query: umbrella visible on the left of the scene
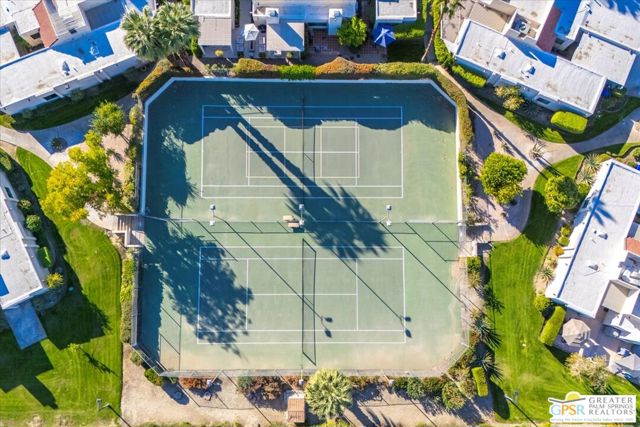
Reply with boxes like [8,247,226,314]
[244,25,260,42]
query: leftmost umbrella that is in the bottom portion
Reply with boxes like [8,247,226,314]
[561,318,588,346]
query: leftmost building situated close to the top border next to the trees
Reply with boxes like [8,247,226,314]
[0,0,164,118]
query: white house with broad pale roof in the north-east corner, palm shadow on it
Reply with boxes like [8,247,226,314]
[555,0,640,93]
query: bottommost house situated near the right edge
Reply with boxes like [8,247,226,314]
[547,161,640,339]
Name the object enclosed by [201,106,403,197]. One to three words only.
tennis court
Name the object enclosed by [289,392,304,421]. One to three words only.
shed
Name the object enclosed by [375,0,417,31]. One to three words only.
house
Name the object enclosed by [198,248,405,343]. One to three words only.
tennis court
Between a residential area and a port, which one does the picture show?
residential area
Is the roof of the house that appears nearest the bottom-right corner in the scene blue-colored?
No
